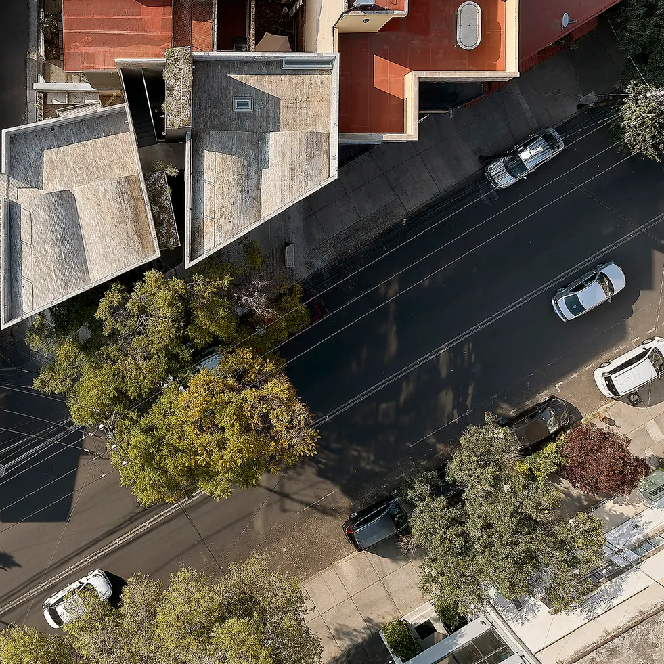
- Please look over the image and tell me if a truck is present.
No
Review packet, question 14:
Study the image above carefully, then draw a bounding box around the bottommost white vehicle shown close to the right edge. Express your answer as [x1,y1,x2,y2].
[591,337,664,400]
